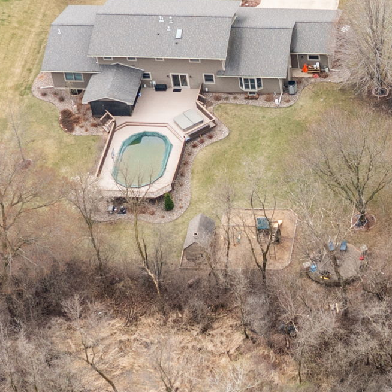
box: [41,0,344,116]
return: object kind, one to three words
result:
house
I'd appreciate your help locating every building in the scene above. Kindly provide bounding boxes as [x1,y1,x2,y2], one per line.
[41,0,344,116]
[175,217,215,269]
